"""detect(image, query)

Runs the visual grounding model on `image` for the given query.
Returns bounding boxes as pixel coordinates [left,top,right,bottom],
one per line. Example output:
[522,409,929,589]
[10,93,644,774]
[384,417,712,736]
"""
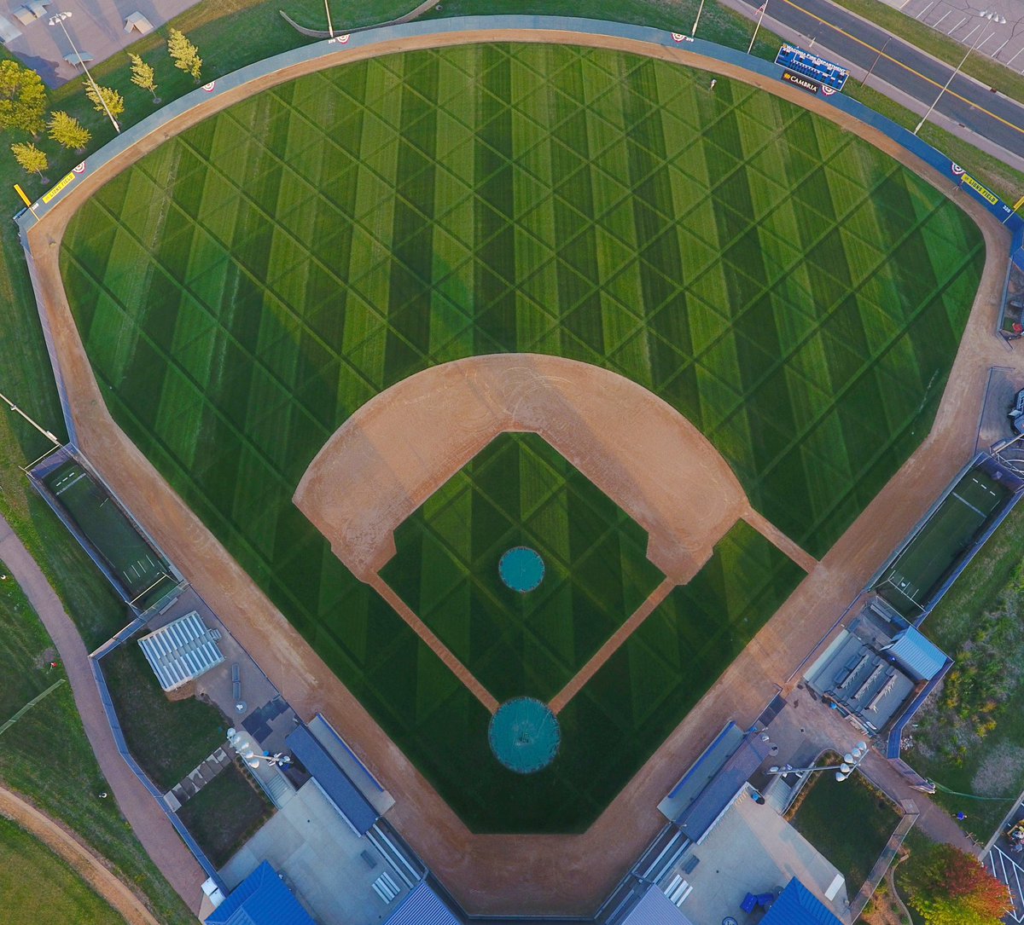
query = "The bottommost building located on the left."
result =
[202,860,321,925]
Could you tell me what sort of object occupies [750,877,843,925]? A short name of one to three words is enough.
building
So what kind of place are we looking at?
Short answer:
sports ground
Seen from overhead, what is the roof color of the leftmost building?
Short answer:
blue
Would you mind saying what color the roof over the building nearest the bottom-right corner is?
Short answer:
blue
